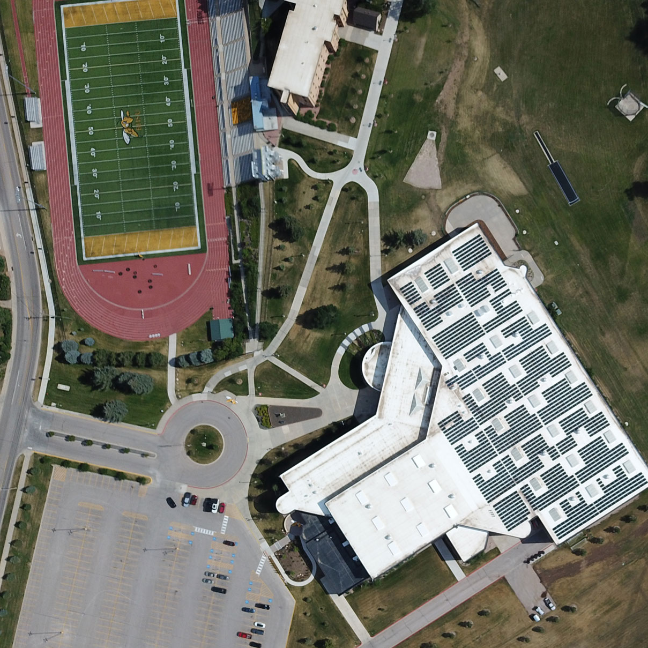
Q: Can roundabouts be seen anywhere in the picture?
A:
Yes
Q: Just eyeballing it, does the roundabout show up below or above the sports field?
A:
below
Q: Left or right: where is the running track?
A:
left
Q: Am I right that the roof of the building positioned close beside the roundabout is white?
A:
Yes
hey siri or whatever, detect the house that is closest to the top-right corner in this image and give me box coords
[353,6,382,35]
